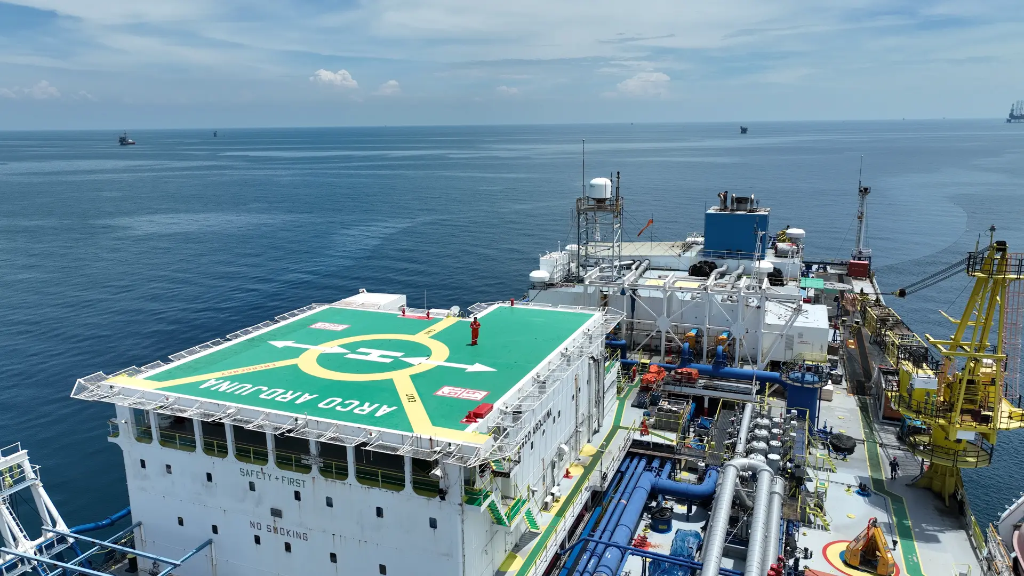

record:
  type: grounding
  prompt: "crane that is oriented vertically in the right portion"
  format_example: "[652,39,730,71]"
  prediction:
[891,222,1024,507]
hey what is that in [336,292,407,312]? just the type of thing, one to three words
house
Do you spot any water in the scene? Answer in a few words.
Yes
